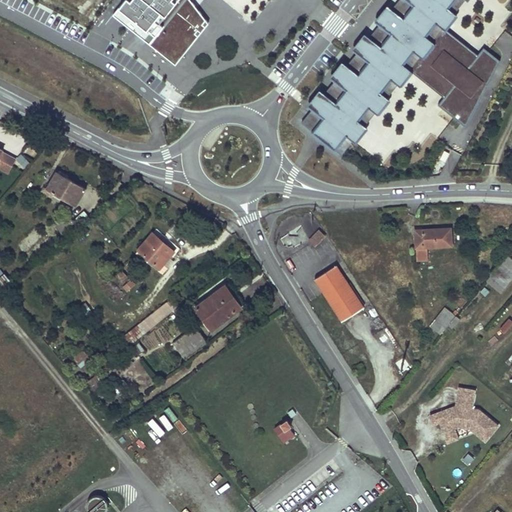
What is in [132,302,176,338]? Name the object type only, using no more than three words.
shed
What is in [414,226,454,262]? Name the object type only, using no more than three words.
house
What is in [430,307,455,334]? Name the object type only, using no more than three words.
building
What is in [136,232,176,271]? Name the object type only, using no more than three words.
house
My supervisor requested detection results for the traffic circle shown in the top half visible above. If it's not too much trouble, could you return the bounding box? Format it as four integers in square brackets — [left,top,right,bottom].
[182,107,280,204]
